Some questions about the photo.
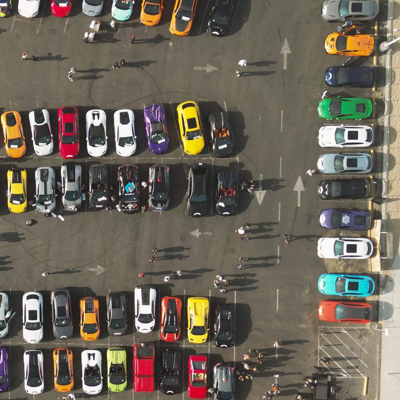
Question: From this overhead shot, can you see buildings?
No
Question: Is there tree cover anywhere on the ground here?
No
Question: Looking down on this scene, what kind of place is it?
parking lot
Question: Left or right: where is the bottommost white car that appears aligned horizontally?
right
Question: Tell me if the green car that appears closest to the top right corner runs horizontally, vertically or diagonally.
horizontally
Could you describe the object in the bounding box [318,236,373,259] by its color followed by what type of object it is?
white car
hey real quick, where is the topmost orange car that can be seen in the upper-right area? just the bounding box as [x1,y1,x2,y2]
[325,33,375,56]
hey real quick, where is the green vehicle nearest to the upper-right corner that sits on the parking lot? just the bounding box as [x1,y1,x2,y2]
[321,96,369,119]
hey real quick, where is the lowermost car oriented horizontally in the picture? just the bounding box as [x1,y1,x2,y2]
[318,300,373,324]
